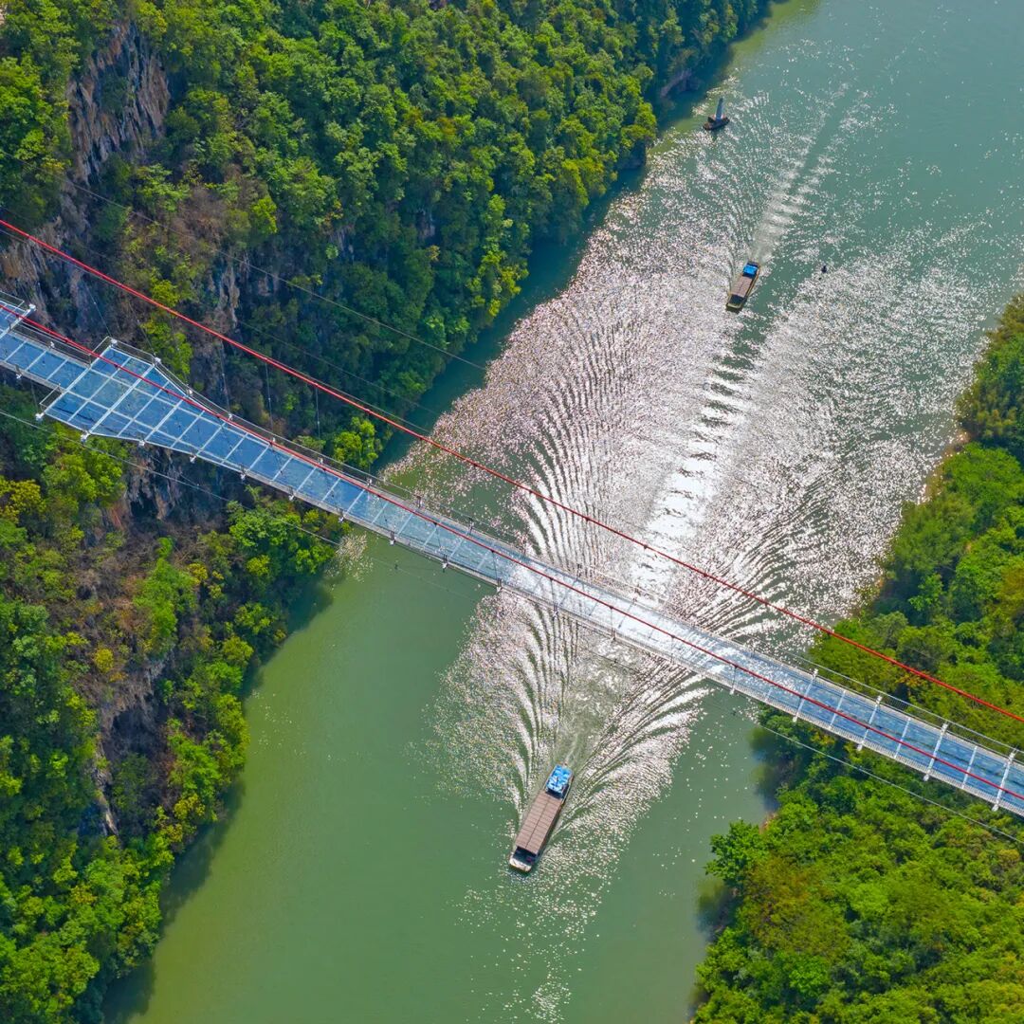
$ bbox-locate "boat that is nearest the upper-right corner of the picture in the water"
[706,100,732,128]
